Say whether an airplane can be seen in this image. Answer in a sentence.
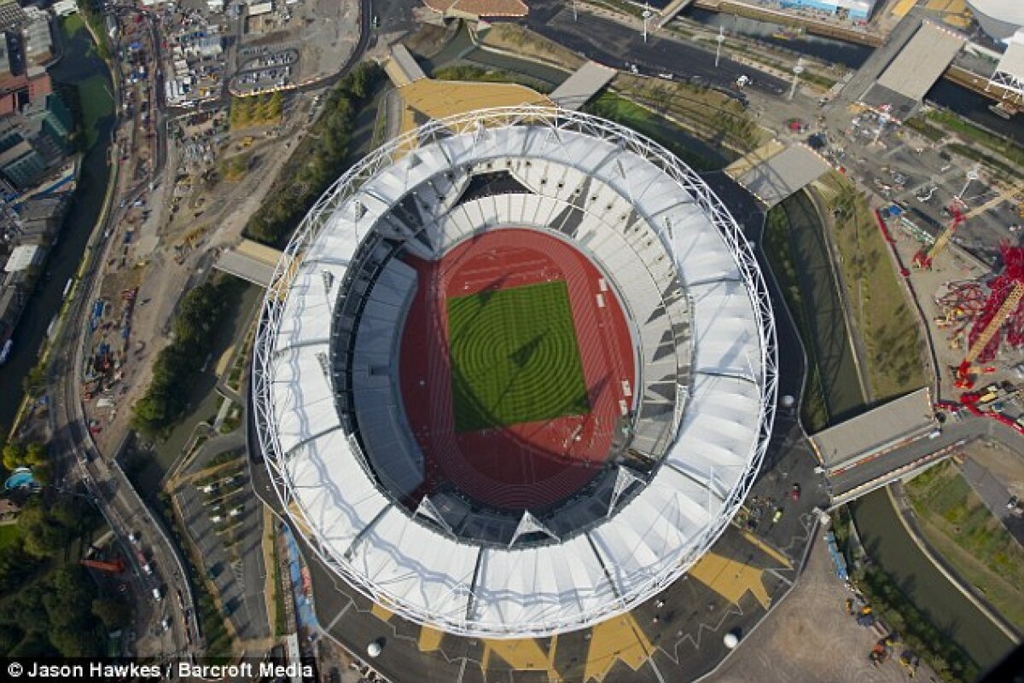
No, I can't see a single airplane in this photo.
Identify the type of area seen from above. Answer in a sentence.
The picture captures a sports ground.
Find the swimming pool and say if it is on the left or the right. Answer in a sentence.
The swimming pool sits on the left side.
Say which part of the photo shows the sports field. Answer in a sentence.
The sports field is located in the center region of the scene.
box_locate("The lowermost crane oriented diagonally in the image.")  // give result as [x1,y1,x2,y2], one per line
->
[954,283,1024,388]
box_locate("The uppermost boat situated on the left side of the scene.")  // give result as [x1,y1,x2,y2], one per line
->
[61,276,73,300]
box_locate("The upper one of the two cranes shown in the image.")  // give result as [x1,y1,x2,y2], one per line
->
[910,183,1024,267]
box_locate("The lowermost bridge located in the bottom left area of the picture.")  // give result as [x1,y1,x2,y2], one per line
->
[72,408,201,683]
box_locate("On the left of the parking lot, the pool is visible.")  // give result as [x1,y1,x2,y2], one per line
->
[2,466,35,489]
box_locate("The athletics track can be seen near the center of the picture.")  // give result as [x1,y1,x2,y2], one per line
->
[428,231,622,505]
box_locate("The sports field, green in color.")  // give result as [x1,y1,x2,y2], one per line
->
[448,281,589,432]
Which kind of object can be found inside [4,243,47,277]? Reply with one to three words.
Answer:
building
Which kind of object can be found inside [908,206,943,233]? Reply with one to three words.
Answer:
shed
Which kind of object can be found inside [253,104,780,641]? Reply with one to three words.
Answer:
stadium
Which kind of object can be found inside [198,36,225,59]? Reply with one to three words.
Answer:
building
